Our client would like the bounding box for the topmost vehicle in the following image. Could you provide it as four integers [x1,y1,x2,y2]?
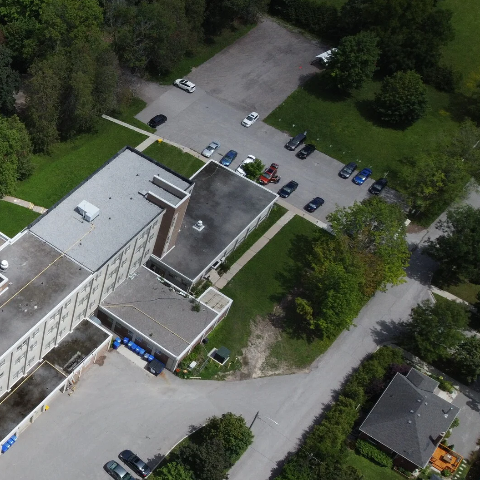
[172,78,197,93]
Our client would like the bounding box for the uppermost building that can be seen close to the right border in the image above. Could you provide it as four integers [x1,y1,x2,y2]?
[354,370,462,477]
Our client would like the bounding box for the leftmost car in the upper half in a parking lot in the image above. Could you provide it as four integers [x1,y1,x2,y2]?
[146,109,170,129]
